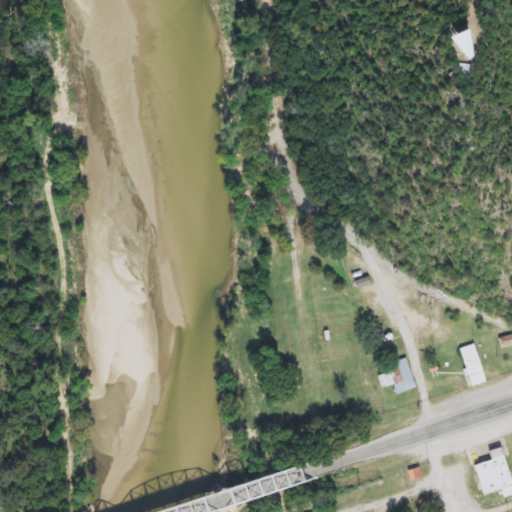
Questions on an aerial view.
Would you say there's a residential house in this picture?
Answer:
Yes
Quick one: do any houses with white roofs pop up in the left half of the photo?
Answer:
No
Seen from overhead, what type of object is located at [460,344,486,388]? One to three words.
house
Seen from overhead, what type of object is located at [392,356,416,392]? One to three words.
house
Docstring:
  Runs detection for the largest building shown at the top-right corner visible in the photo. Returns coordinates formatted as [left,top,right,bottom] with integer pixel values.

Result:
[452,28,476,58]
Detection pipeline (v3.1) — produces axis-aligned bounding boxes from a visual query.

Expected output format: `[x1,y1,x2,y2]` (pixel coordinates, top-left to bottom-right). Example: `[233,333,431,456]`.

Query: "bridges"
[162,460,328,512]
